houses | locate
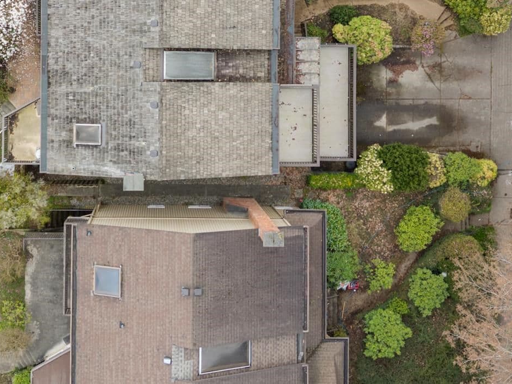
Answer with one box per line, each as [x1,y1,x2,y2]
[40,0,295,191]
[70,197,348,384]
